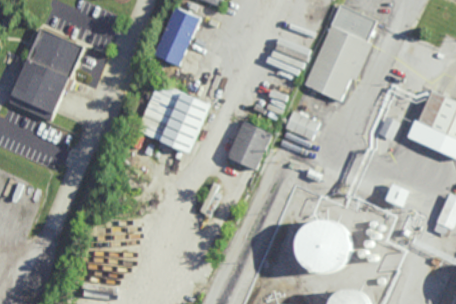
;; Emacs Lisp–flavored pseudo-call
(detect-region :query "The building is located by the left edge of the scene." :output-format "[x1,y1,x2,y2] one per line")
[9,30,84,121]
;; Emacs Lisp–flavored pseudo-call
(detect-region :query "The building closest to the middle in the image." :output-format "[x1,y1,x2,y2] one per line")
[228,121,274,170]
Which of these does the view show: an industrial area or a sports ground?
industrial area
